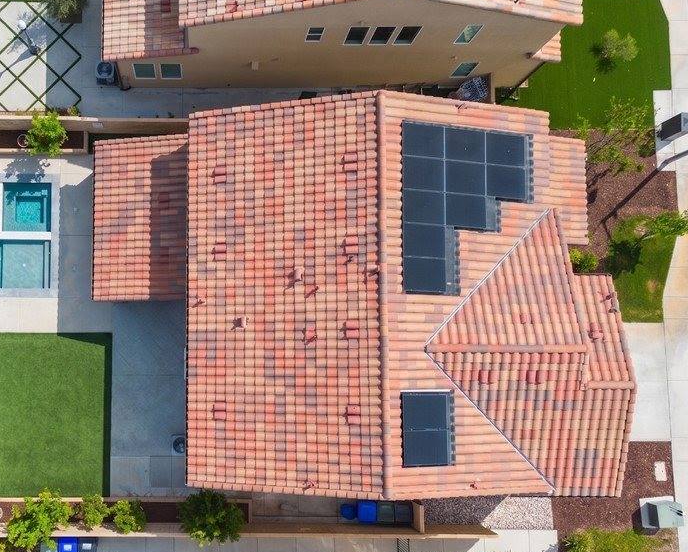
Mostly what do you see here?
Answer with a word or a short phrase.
buildings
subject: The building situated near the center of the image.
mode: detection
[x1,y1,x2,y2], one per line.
[90,90,643,498]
